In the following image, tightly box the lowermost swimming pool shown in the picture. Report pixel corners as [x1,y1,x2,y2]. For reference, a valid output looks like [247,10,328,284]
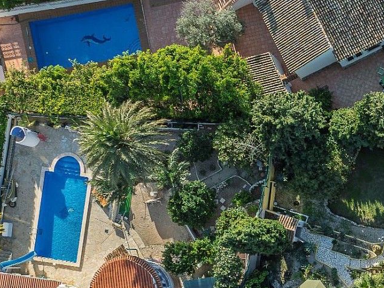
[25,151,93,268]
